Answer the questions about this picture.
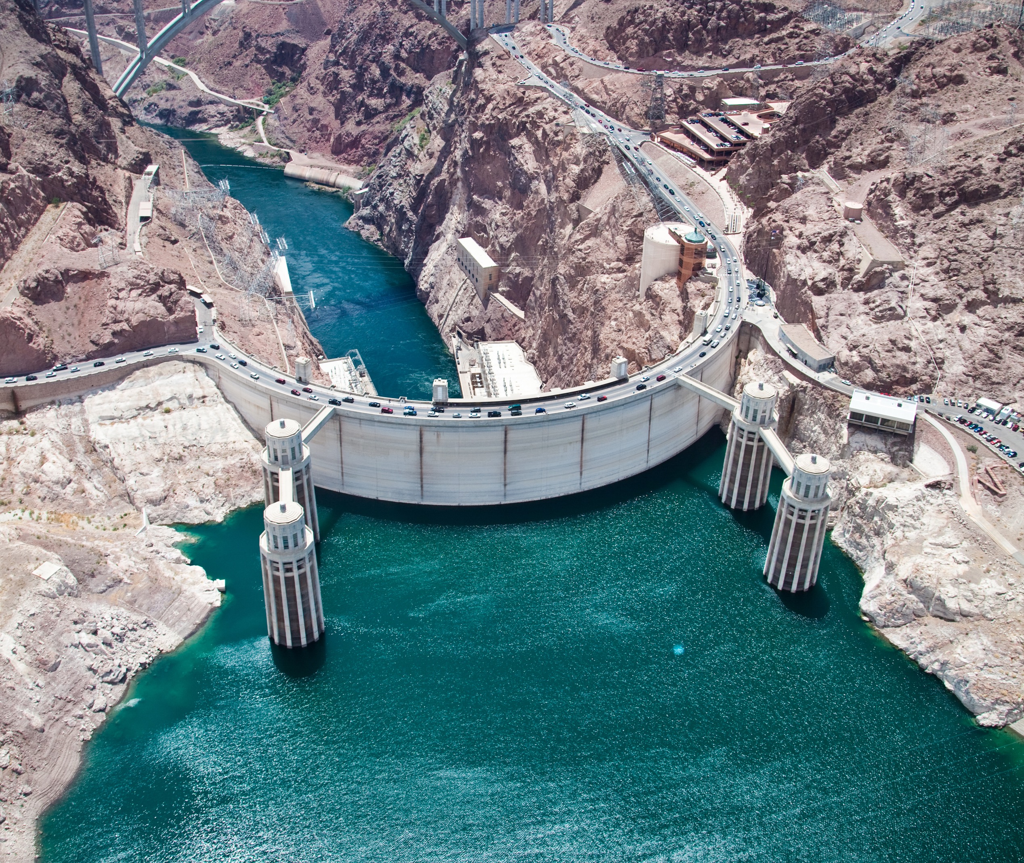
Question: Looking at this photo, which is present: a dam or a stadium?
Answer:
dam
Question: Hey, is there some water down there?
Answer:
Yes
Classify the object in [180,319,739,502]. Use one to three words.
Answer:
dam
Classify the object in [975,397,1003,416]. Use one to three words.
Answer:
building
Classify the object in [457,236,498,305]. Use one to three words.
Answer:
building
